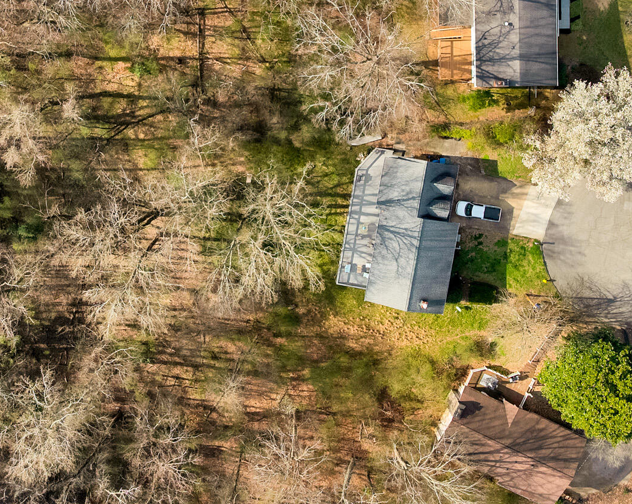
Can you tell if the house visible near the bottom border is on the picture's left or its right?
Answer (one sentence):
You can find the house visible near the bottom border on the right side of the picture.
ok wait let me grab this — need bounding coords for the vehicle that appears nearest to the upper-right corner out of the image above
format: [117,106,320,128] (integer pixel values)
[455,201,503,222]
